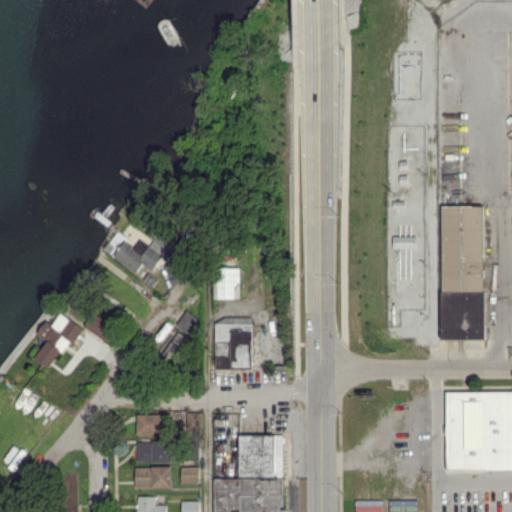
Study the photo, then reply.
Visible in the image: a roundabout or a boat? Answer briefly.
boat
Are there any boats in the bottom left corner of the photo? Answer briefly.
Yes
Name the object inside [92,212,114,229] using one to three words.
boat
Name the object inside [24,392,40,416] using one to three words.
boat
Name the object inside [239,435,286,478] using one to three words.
building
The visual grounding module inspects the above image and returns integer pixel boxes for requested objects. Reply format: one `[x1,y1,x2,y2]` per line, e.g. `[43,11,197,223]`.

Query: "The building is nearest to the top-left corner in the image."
[104,225,166,276]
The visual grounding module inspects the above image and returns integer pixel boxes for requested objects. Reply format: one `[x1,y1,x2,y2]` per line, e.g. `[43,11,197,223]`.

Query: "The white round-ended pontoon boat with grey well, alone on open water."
[162,19,185,48]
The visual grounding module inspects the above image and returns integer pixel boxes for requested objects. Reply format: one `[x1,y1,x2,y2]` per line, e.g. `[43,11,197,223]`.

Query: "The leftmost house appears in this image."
[32,313,84,370]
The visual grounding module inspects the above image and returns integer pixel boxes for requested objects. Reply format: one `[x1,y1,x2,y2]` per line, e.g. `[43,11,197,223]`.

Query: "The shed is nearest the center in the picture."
[214,268,240,300]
